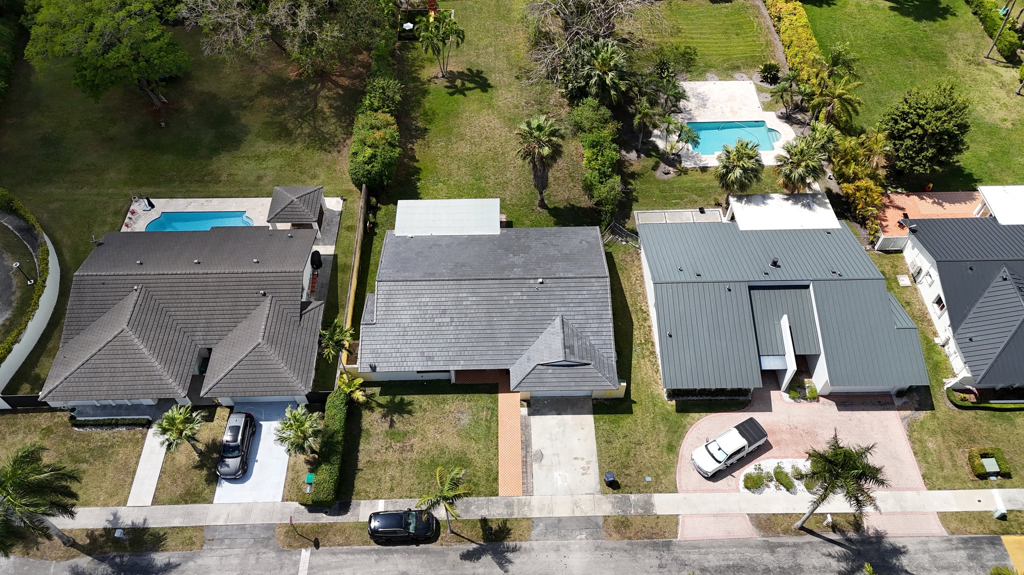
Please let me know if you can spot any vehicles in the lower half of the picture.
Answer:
Yes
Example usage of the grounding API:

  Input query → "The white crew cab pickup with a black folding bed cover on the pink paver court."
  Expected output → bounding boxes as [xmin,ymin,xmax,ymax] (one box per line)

[696,417,768,475]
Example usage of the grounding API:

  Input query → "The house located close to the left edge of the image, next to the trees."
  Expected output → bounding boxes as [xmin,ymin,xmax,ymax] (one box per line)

[37,225,325,407]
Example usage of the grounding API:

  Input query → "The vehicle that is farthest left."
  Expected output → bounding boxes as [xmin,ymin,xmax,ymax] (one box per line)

[215,411,257,479]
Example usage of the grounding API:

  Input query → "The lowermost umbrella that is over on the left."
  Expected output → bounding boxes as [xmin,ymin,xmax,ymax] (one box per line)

[130,188,154,210]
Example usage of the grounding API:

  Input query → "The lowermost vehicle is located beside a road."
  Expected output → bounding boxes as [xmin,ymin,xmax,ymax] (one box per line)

[366,508,437,544]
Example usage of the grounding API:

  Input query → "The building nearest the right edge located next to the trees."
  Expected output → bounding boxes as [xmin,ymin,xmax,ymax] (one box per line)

[900,217,1024,397]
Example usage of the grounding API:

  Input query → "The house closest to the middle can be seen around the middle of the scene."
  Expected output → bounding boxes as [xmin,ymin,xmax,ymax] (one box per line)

[356,226,629,398]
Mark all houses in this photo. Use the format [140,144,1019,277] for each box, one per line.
[636,220,930,397]
[900,217,1024,397]
[37,225,325,407]
[356,226,629,398]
